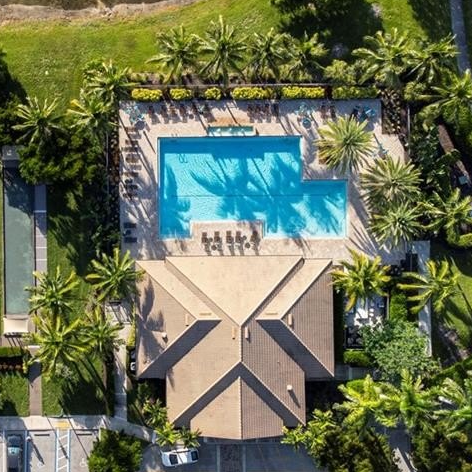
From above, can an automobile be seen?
Yes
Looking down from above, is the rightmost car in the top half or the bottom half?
bottom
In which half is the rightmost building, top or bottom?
bottom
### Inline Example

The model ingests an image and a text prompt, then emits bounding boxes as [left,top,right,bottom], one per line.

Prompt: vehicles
[160,448,199,469]
[5,433,24,472]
